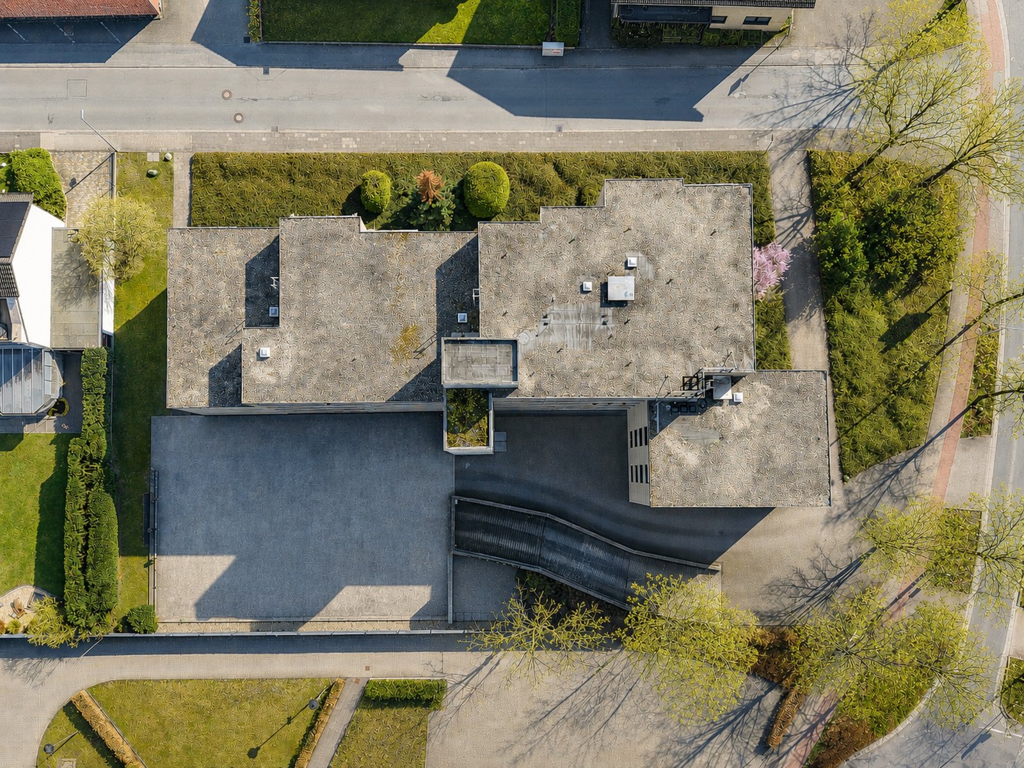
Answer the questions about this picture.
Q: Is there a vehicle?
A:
No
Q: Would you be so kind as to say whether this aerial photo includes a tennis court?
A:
No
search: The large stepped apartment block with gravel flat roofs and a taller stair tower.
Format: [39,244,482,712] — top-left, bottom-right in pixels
[166,178,831,507]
